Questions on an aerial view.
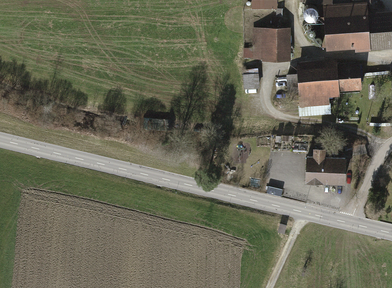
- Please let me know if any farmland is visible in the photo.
Yes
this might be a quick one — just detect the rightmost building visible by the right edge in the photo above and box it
[370,8,392,50]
